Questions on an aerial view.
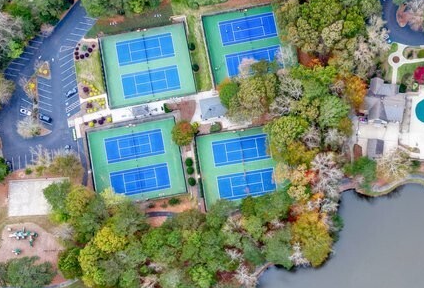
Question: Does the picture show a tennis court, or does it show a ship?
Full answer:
Of the two, only a tennis court appears.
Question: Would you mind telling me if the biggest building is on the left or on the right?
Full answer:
The biggest building is on the right side of the image.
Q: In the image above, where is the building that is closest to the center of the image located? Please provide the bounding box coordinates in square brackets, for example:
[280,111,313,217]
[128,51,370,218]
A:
[199,98,227,121]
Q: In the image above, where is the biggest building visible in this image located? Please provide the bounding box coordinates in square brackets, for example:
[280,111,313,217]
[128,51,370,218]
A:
[366,76,407,126]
